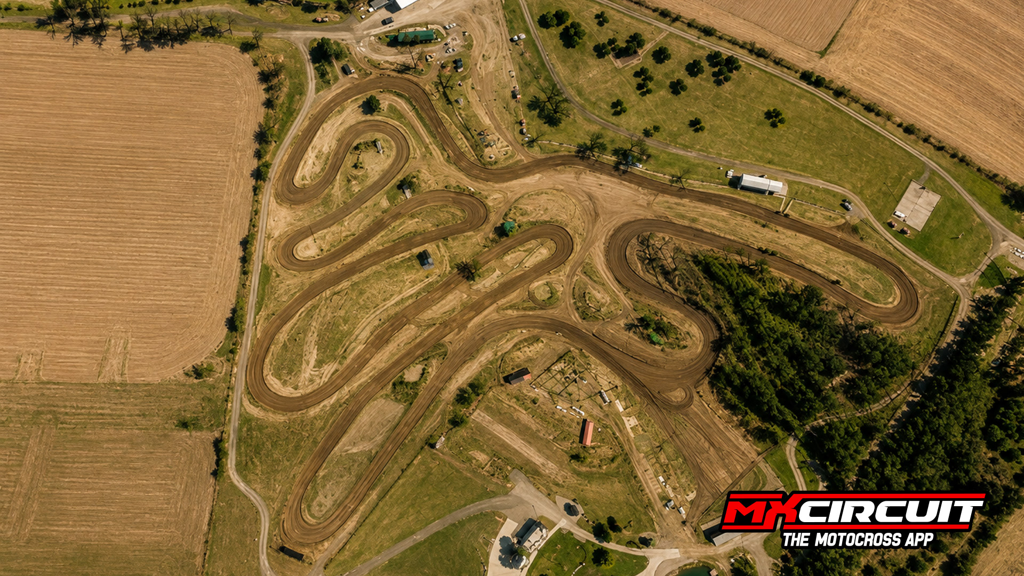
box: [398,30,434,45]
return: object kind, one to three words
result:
building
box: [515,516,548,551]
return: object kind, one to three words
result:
house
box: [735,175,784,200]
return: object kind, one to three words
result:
barn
